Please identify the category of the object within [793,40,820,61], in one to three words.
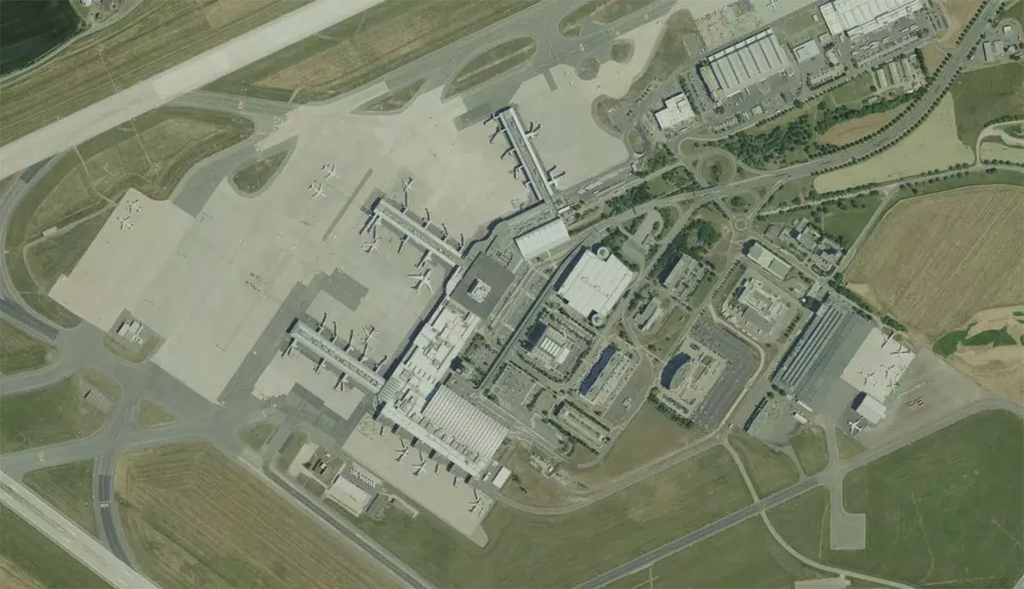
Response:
building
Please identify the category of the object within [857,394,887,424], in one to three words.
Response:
hangar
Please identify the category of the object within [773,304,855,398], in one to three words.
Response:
hangar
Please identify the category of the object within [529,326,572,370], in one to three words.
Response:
building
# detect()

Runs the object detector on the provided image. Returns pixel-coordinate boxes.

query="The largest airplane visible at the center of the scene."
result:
[412,270,431,291]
